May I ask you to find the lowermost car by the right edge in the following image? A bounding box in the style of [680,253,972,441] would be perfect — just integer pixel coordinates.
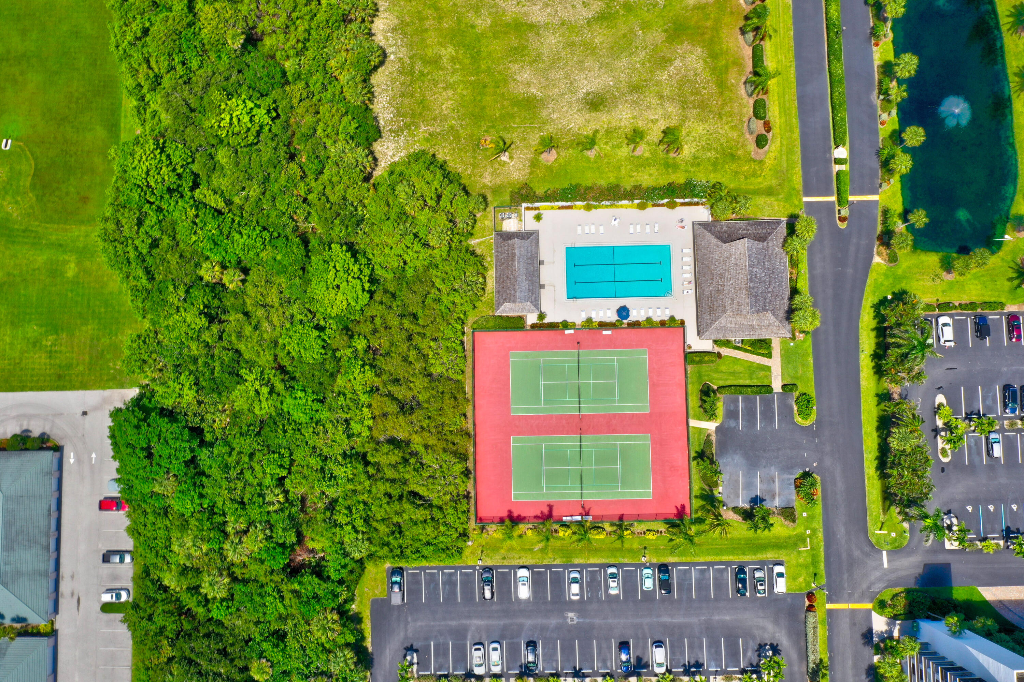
[985,432,1001,458]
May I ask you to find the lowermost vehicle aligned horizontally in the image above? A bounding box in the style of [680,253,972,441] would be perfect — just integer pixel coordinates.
[101,589,131,604]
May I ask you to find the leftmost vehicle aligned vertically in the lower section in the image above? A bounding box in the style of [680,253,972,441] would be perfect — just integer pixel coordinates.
[390,569,404,605]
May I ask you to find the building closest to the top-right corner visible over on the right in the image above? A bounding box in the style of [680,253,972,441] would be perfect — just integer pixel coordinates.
[694,220,791,339]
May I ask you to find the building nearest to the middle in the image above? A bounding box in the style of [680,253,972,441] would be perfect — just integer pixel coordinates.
[493,230,540,315]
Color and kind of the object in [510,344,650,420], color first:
green tennis court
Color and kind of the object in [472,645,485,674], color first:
white vehicle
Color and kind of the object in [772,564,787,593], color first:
white car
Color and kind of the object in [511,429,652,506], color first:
green tennis court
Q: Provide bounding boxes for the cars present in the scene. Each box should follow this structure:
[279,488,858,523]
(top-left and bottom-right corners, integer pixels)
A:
[642,568,654,591]
[936,316,953,344]
[489,642,503,671]
[985,432,1001,458]
[481,569,494,600]
[752,569,766,596]
[101,589,131,604]
[517,567,530,599]
[606,566,620,594]
[734,566,748,596]
[568,571,582,600]
[973,315,990,340]
[1001,385,1018,413]
[918,319,933,340]
[99,499,130,512]
[618,642,632,672]
[107,479,136,491]
[472,645,485,674]
[772,564,787,593]
[658,564,671,595]
[1019,384,1024,412]
[652,641,666,673]
[1007,314,1022,342]
[525,642,539,673]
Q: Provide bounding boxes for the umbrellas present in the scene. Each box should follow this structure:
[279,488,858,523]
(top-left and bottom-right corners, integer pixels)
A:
[617,306,631,320]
